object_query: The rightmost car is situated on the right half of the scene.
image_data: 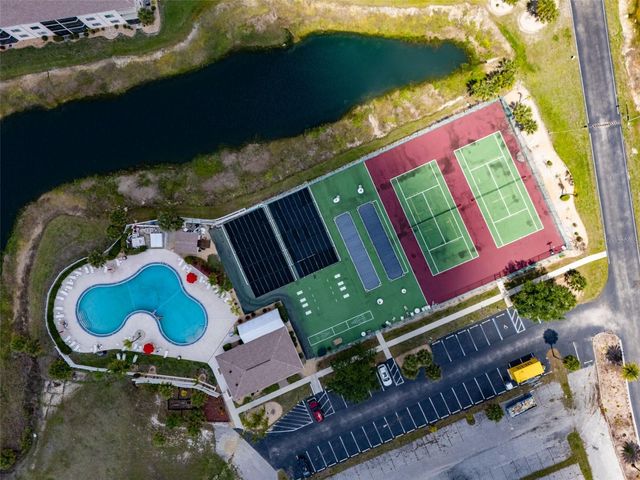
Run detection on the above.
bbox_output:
[378,364,392,388]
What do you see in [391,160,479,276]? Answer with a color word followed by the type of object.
green tennis court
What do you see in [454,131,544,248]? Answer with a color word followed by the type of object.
green tennis court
